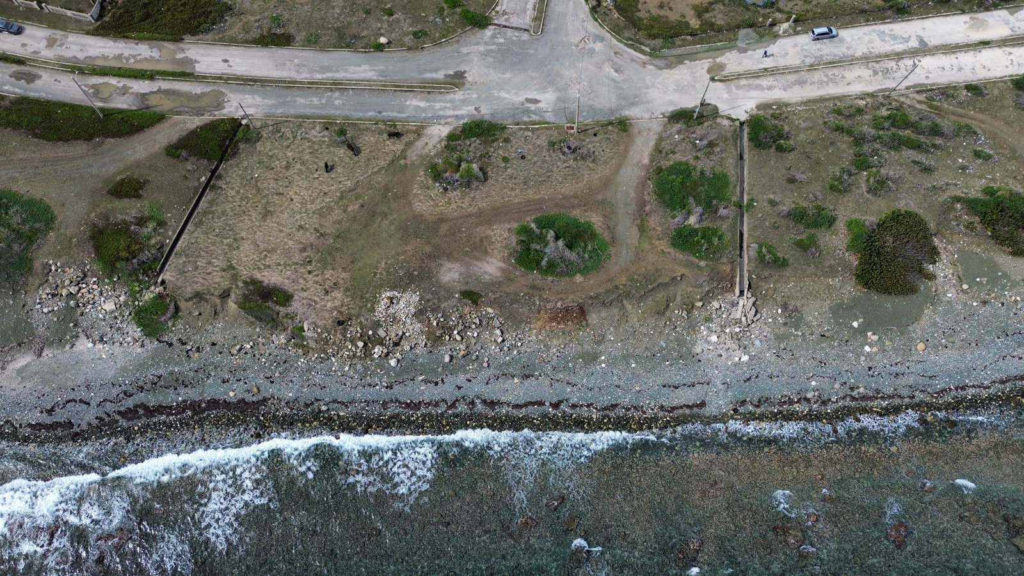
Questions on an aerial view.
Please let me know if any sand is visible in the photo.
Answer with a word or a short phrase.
Yes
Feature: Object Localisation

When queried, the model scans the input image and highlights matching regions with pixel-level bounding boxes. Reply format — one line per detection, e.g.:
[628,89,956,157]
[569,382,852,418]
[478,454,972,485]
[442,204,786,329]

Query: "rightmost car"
[808,24,843,42]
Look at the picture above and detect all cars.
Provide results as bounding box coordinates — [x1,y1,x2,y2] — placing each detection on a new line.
[808,24,843,42]
[0,20,23,38]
